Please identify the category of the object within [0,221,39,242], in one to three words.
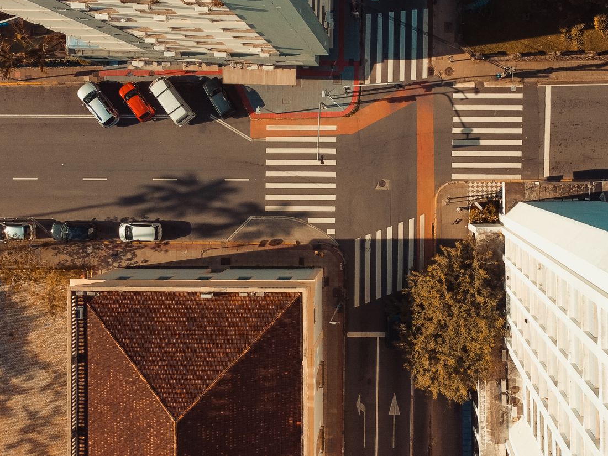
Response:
car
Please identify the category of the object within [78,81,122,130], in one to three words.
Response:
car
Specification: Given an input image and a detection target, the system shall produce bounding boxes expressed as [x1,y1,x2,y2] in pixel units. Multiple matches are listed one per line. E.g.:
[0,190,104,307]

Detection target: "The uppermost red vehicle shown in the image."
[120,81,157,124]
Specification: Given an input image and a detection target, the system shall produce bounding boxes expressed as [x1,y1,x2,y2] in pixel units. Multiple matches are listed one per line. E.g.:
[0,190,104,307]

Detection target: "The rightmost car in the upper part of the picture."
[203,74,240,122]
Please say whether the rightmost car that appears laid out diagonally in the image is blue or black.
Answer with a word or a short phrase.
black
